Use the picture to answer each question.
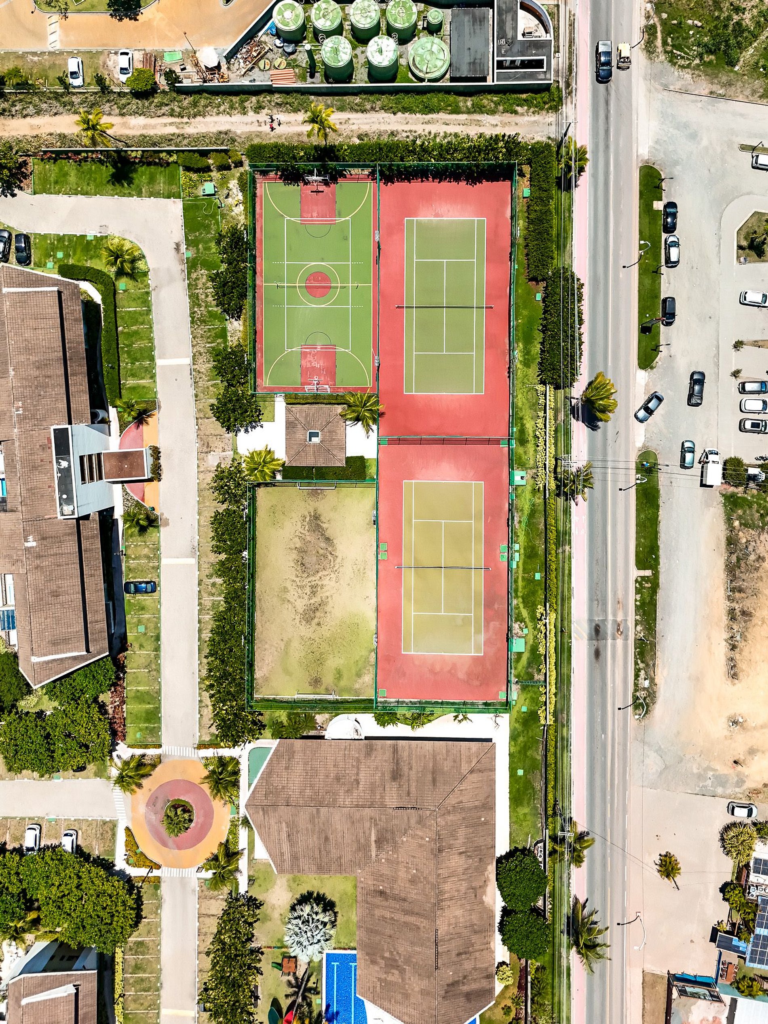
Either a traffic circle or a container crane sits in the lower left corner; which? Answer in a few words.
traffic circle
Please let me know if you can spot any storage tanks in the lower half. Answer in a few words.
No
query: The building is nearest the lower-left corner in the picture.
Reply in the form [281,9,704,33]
[8,941,113,1024]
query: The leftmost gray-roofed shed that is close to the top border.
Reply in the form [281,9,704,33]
[450,8,489,83]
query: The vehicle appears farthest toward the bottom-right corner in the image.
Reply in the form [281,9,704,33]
[726,801,758,819]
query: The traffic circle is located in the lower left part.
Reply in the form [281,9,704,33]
[128,760,231,868]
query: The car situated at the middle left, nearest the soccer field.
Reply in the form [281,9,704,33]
[124,579,157,596]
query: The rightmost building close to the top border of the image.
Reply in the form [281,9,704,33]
[492,0,555,92]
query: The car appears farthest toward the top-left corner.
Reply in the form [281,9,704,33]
[69,55,85,89]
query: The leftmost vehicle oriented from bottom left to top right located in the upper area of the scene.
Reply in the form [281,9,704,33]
[636,390,662,423]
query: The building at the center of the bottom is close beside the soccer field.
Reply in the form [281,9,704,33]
[244,736,496,1024]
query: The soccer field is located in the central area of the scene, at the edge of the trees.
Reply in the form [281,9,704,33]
[254,485,376,698]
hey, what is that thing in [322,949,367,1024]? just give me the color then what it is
blue swimming pool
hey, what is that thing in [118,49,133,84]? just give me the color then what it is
white car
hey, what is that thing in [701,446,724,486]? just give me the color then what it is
white truck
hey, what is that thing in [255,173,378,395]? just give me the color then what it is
green sports court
